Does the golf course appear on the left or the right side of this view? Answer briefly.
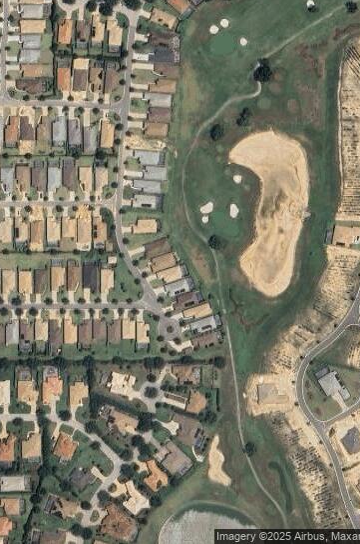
right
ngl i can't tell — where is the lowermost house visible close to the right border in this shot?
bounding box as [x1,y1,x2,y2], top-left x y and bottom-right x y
[322,370,344,400]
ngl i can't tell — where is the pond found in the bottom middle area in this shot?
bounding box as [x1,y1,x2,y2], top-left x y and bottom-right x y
[158,508,263,544]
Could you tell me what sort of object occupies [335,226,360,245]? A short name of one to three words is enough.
house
